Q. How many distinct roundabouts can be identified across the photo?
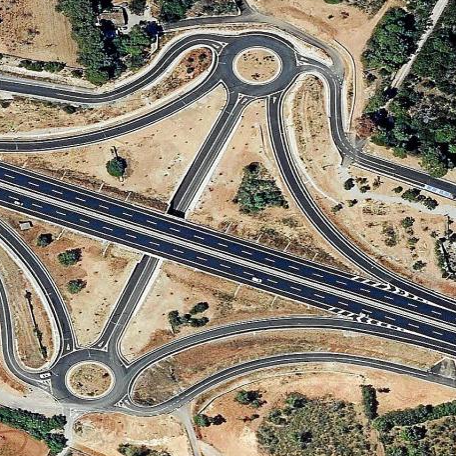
2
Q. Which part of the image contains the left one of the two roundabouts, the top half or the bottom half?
bottom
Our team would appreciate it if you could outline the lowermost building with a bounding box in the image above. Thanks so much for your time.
[442,242,456,275]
